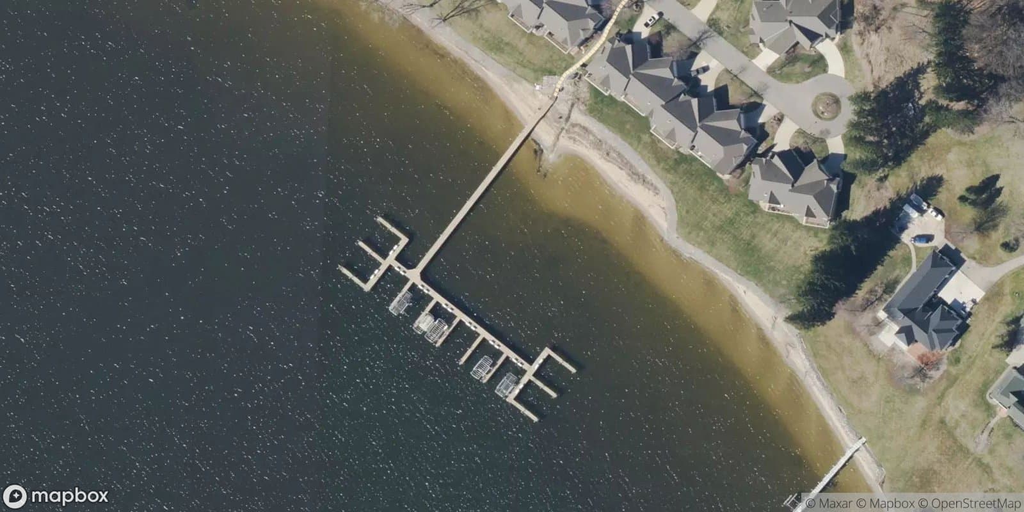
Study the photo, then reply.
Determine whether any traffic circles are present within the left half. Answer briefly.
No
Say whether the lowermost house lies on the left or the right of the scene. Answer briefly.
right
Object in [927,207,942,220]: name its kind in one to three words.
vehicle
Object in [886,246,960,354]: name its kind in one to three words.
house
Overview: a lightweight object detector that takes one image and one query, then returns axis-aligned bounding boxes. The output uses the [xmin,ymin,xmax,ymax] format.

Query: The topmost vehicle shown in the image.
[642,14,659,29]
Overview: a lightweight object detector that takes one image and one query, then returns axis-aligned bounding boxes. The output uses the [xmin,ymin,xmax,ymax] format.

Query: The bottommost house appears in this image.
[991,350,1024,424]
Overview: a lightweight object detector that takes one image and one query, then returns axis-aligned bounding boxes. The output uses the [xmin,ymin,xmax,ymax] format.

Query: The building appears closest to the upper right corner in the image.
[749,0,838,56]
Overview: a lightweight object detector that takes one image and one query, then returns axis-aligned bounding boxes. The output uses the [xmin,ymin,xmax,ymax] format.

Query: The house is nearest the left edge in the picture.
[505,0,598,53]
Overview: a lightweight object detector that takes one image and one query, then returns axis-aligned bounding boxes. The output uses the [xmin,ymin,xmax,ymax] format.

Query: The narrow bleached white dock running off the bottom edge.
[789,438,866,512]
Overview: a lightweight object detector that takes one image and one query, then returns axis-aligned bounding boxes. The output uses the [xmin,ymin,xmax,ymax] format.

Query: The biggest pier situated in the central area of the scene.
[338,96,578,422]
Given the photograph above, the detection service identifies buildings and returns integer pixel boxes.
[505,0,598,53]
[746,149,839,228]
[886,246,960,354]
[749,0,838,56]
[585,37,754,176]
[991,350,1024,424]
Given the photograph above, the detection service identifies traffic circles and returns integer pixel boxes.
[811,91,841,121]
